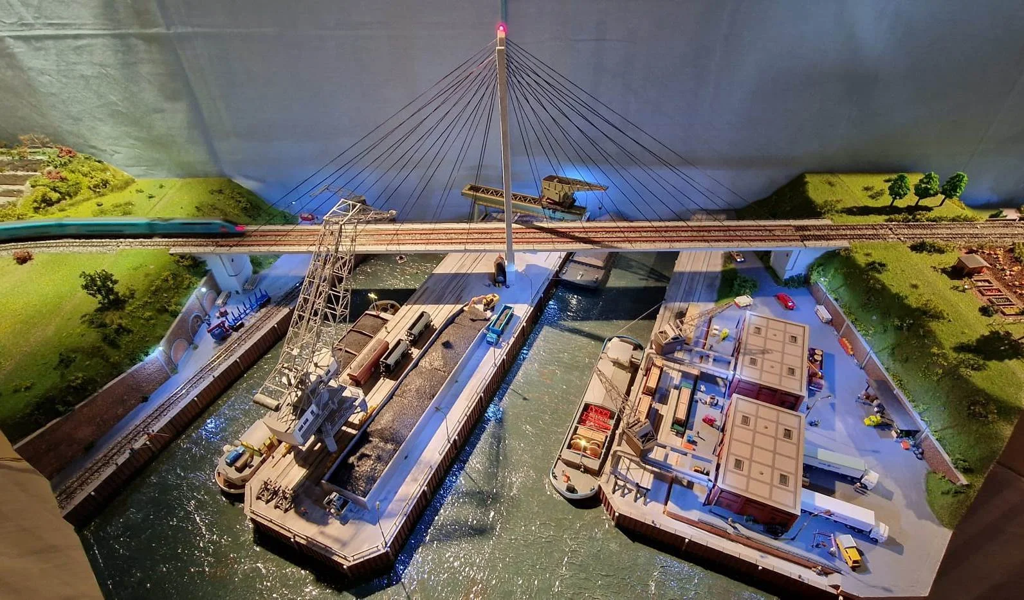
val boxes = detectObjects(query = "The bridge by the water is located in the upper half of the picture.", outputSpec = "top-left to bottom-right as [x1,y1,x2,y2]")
[172,27,848,287]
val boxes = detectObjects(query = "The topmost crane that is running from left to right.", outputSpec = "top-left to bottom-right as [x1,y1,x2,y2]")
[472,177,616,223]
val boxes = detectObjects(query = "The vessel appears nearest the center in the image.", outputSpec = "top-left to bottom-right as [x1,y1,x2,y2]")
[560,252,612,299]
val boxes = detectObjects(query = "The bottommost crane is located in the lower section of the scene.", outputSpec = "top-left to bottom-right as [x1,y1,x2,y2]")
[592,366,721,490]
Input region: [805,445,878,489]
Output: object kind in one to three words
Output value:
truck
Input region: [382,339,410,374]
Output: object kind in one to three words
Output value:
rail car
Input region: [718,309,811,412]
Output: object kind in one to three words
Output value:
building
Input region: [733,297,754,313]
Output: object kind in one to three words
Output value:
vehicle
